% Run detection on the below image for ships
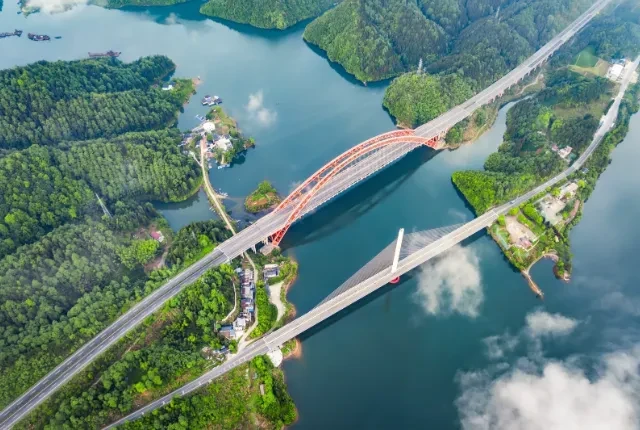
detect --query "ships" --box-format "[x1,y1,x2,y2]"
[28,34,49,39]
[88,49,119,56]
[0,29,21,36]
